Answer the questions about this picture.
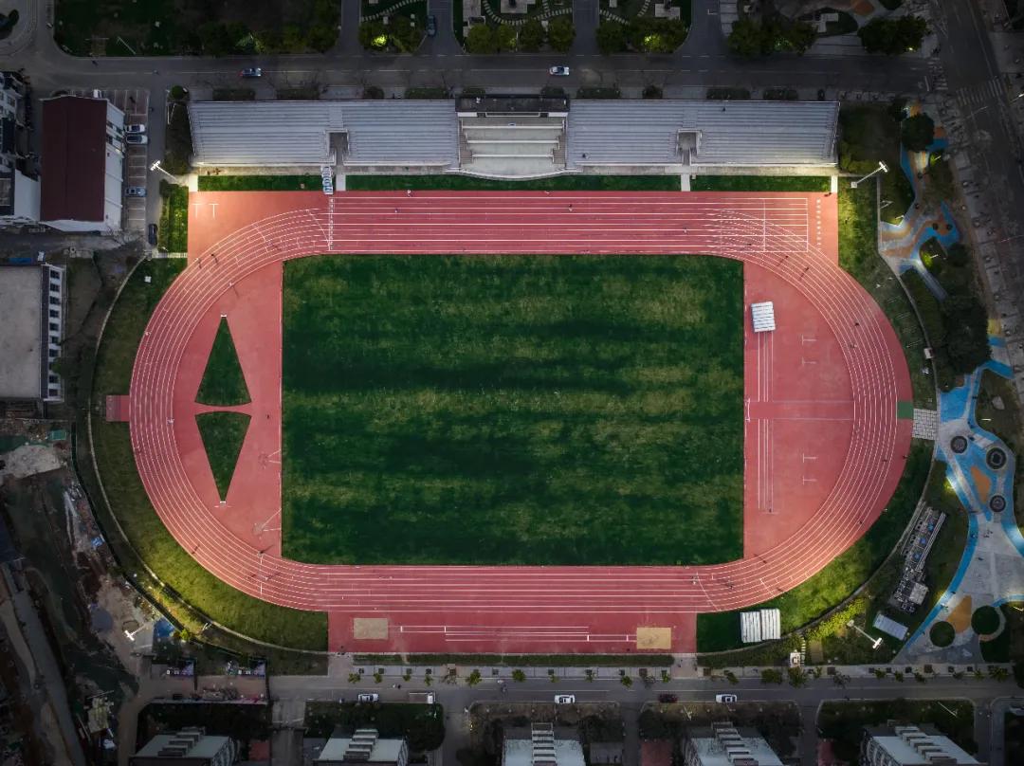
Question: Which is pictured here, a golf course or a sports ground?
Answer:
sports ground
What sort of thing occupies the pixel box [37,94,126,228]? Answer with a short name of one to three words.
building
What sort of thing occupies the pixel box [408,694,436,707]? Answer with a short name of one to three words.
vehicle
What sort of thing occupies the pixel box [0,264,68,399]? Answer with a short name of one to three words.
building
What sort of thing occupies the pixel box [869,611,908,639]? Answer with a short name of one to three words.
shed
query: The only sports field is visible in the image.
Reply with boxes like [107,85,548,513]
[282,253,744,566]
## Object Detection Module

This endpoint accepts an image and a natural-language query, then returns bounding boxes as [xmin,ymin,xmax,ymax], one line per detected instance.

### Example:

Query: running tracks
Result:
[106,191,913,653]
